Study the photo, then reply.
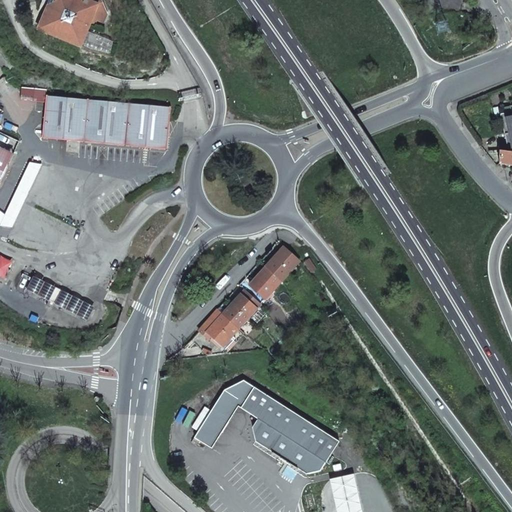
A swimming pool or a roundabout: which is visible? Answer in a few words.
roundabout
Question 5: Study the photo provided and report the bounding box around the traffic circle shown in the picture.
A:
[183,123,297,234]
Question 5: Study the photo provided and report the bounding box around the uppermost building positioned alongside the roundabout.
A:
[40,95,170,153]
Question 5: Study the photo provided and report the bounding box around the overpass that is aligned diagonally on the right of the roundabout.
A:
[291,62,392,190]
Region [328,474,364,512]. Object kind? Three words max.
building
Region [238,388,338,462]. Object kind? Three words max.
building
